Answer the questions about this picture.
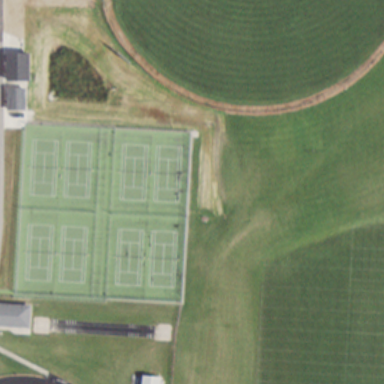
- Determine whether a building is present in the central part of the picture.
No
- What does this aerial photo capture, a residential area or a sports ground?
sports ground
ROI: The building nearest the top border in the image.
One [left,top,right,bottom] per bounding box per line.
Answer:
[6,52,30,81]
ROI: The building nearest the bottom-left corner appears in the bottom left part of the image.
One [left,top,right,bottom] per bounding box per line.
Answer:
[0,302,32,328]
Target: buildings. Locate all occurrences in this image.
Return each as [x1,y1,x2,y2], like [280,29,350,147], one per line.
[140,374,161,384]
[6,52,30,81]
[0,302,32,328]
[6,85,26,110]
